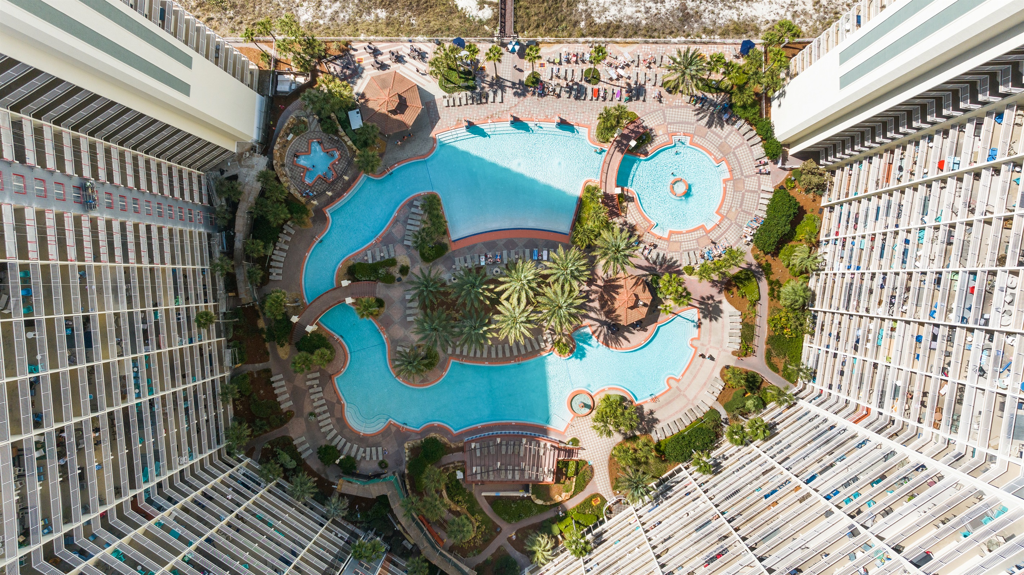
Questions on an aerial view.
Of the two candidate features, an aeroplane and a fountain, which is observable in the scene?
fountain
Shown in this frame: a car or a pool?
pool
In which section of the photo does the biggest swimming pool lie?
center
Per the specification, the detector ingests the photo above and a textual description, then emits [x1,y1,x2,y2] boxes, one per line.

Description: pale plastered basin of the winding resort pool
[303,121,730,433]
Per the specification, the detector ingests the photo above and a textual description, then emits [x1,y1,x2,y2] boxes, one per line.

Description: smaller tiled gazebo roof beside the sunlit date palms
[598,273,652,325]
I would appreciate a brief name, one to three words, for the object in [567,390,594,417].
fountain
